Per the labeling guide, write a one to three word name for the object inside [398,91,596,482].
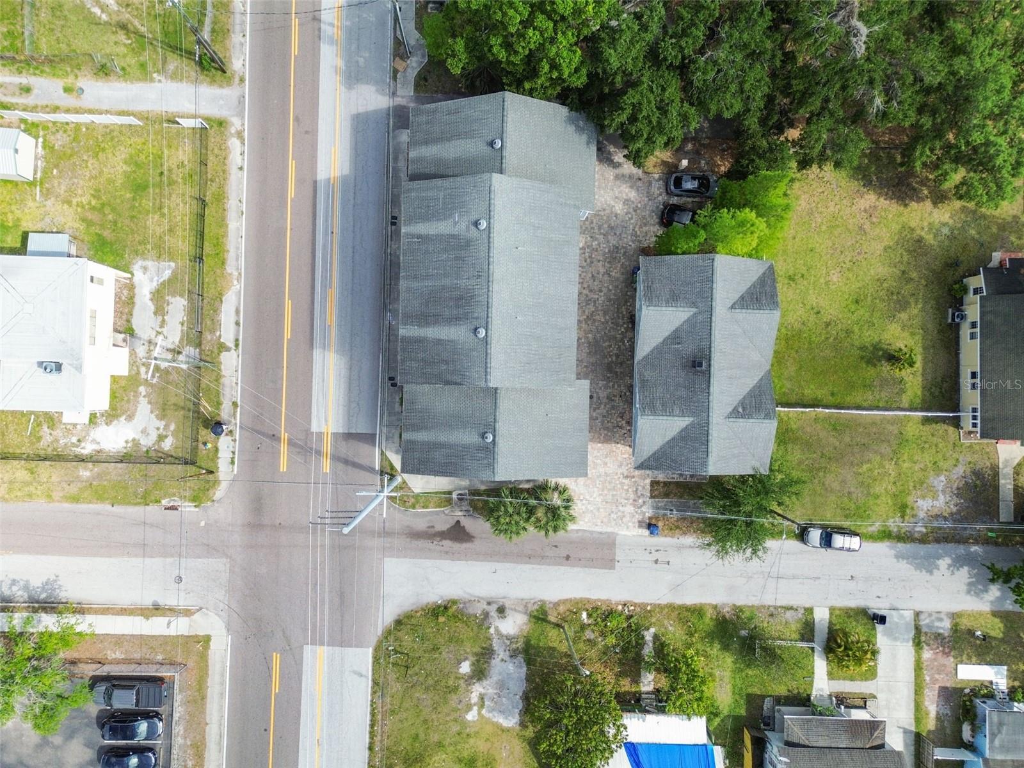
building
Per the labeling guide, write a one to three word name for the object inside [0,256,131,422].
house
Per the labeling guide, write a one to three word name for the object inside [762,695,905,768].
house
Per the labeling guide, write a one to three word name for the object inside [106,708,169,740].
car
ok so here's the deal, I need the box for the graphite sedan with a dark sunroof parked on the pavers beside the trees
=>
[661,174,715,201]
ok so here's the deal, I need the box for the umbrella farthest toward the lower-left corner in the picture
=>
[208,422,222,436]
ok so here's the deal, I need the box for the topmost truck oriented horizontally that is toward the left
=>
[101,675,174,707]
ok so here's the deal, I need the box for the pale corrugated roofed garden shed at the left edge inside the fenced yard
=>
[0,128,36,183]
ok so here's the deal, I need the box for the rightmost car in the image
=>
[800,524,859,552]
